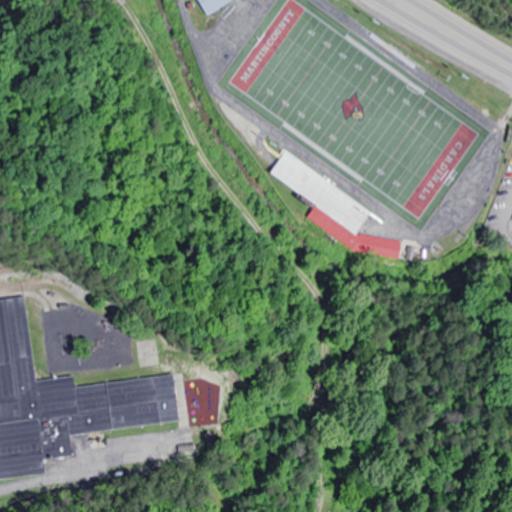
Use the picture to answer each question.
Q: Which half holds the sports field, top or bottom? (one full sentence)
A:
Seen from above, the sports field lies in the top half of the view.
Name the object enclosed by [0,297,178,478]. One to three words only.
building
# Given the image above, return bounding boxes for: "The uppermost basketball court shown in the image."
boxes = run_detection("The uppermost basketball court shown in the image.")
[136,339,159,367]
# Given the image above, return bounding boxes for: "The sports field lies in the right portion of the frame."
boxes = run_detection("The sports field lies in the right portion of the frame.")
[219,0,490,228]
